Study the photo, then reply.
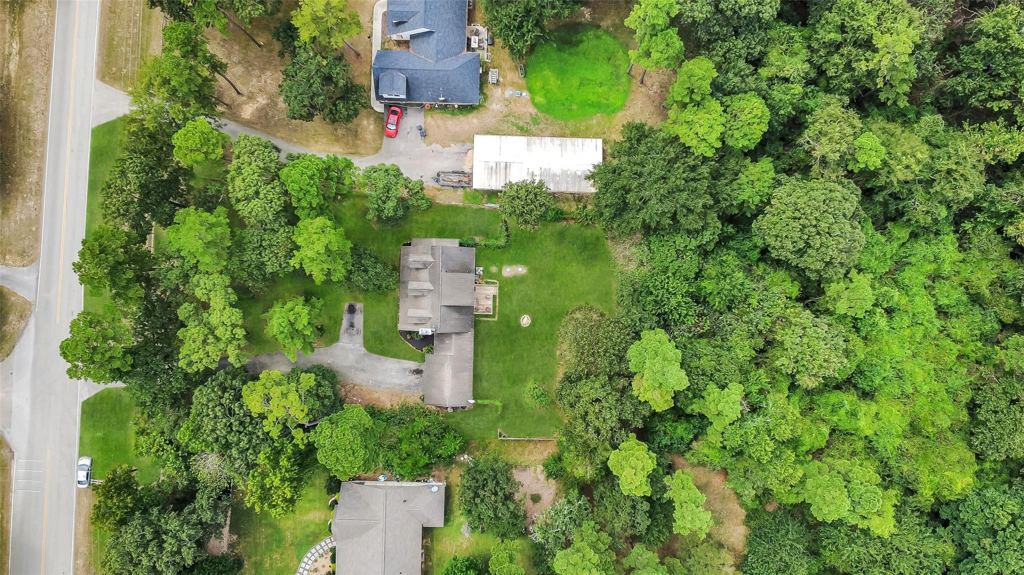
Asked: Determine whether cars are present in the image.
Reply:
Yes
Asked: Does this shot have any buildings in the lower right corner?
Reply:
No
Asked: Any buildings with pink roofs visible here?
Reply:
No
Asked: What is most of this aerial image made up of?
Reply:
trees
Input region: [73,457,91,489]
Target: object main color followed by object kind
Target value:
white car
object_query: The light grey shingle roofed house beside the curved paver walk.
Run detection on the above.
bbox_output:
[333,479,447,575]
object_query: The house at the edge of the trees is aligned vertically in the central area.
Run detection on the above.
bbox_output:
[398,238,476,407]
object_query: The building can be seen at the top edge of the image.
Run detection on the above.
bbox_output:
[372,0,480,105]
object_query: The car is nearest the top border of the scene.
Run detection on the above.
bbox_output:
[383,103,402,137]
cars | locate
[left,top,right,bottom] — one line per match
[383,103,402,137]
[73,457,91,489]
